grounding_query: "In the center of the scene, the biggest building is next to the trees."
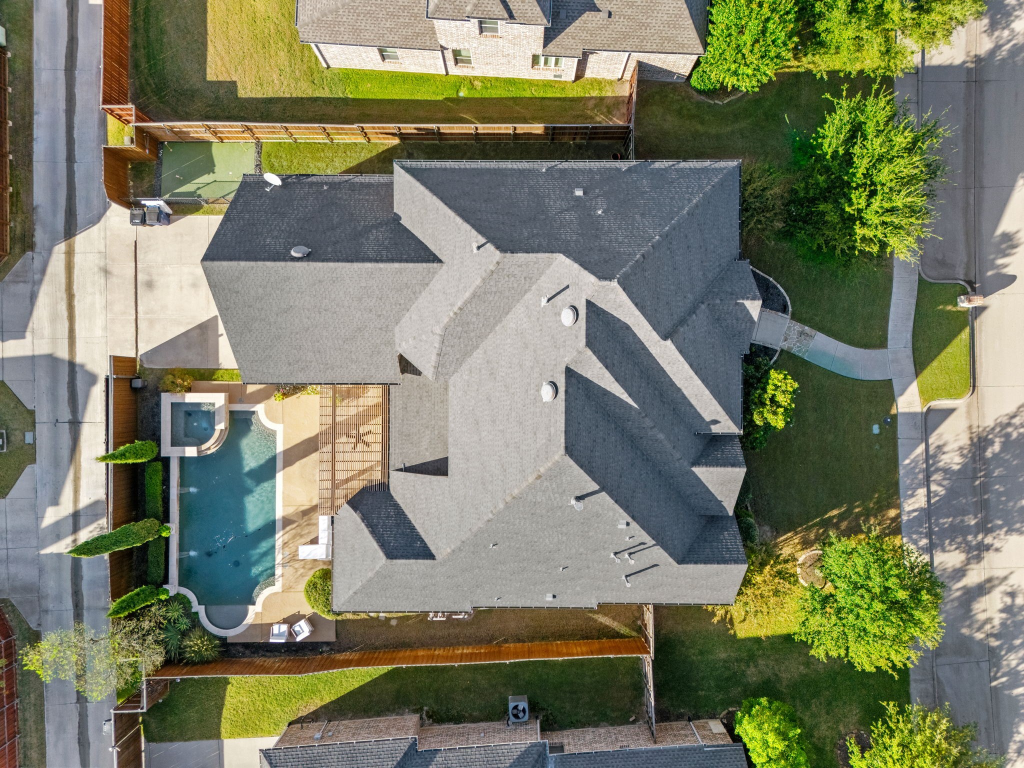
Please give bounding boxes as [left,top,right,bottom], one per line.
[200,157,761,619]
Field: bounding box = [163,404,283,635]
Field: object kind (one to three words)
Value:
swimming pool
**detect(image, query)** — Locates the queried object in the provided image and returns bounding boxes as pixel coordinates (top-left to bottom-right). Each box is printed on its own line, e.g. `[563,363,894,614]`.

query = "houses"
[293,0,712,89]
[200,157,761,619]
[255,715,745,768]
